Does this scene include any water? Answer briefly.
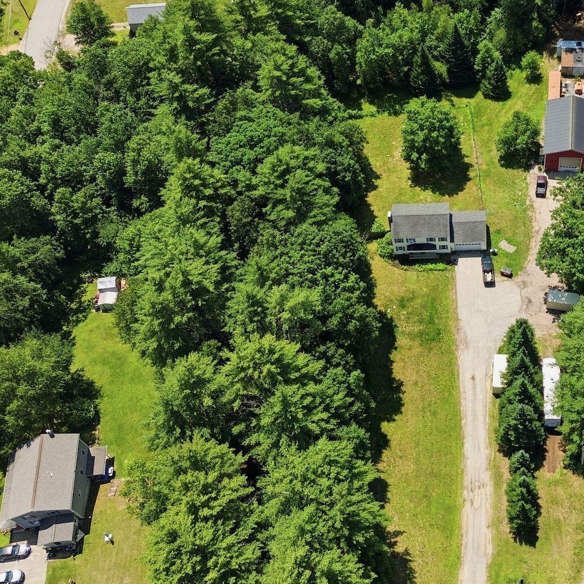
No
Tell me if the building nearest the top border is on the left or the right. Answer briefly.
left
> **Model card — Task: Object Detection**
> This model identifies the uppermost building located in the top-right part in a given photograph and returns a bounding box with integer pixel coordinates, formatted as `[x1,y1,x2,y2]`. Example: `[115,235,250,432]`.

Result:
[540,94,584,172]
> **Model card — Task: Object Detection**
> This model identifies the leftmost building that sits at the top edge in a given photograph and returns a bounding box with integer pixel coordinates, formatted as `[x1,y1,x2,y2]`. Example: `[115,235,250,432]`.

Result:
[126,7,159,35]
